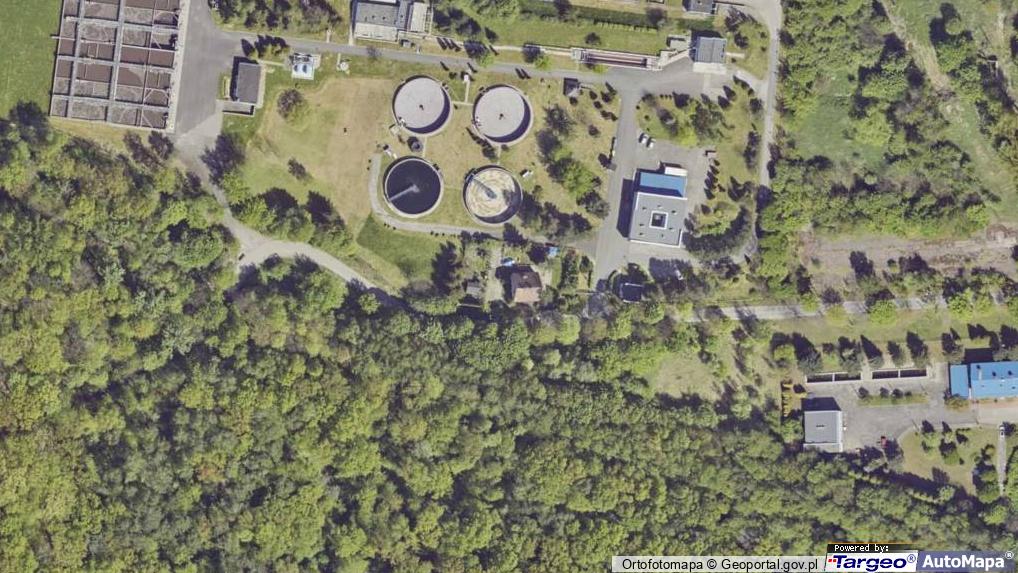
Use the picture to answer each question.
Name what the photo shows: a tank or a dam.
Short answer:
tank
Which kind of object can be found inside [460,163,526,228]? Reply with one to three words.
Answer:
storage tank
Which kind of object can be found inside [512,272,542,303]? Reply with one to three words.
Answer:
house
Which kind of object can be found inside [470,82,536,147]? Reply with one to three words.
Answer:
storage tank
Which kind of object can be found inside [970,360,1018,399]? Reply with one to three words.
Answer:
building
